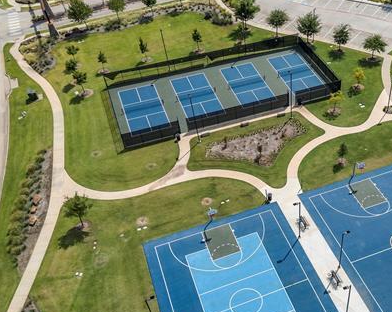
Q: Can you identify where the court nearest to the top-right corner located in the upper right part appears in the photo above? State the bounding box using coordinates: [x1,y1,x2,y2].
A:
[268,53,324,91]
